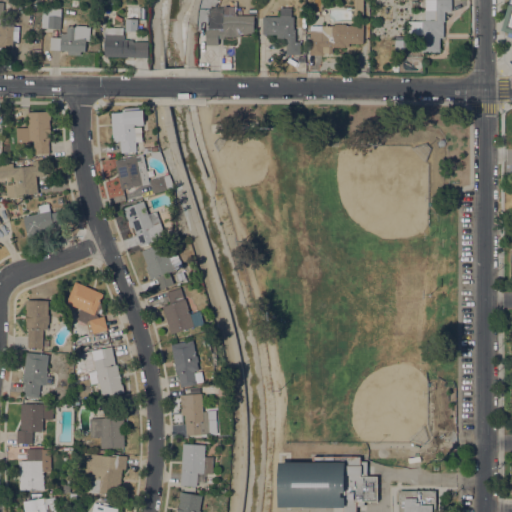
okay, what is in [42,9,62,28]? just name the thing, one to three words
building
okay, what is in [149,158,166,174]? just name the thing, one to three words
swimming pool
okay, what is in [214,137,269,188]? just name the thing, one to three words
baseball field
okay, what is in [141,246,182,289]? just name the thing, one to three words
house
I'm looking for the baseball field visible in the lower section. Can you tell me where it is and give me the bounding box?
[353,362,431,444]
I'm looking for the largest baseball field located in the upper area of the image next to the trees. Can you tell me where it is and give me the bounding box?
[338,143,432,240]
